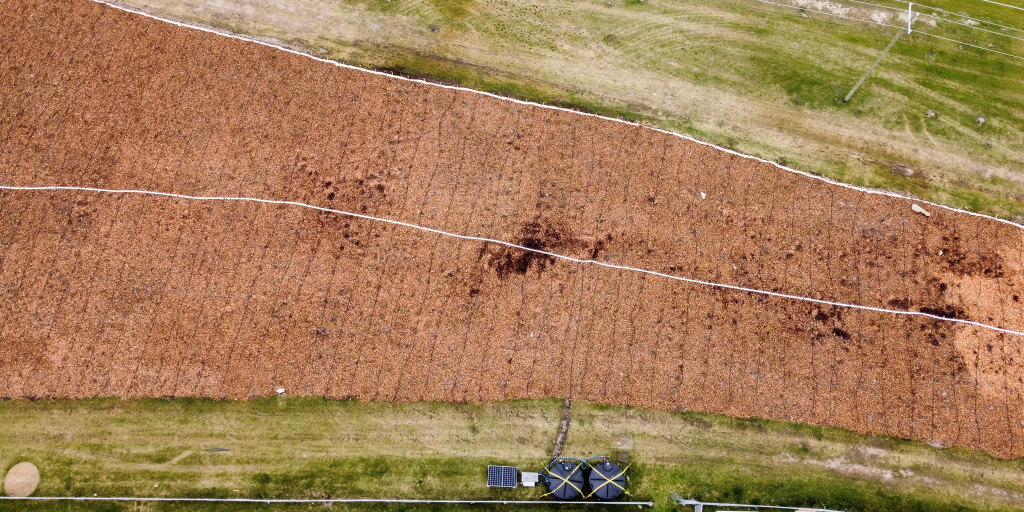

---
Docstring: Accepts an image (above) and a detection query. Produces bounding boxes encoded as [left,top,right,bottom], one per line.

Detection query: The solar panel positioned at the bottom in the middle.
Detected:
[487,465,517,489]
